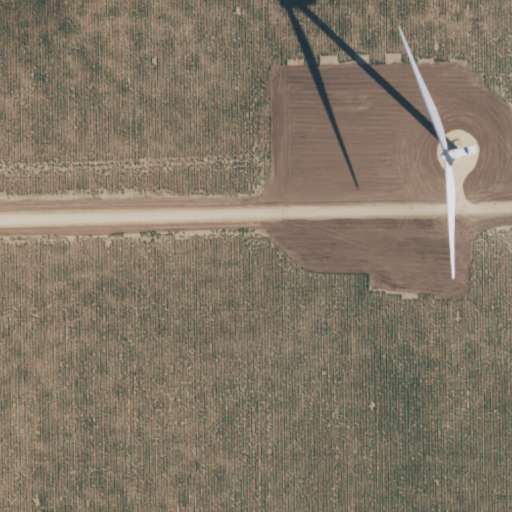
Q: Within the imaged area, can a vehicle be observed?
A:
No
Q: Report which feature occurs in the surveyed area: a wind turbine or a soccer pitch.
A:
wind turbine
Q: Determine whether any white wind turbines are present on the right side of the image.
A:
Yes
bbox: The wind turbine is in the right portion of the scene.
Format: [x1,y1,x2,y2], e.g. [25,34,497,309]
[400,27,477,280]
